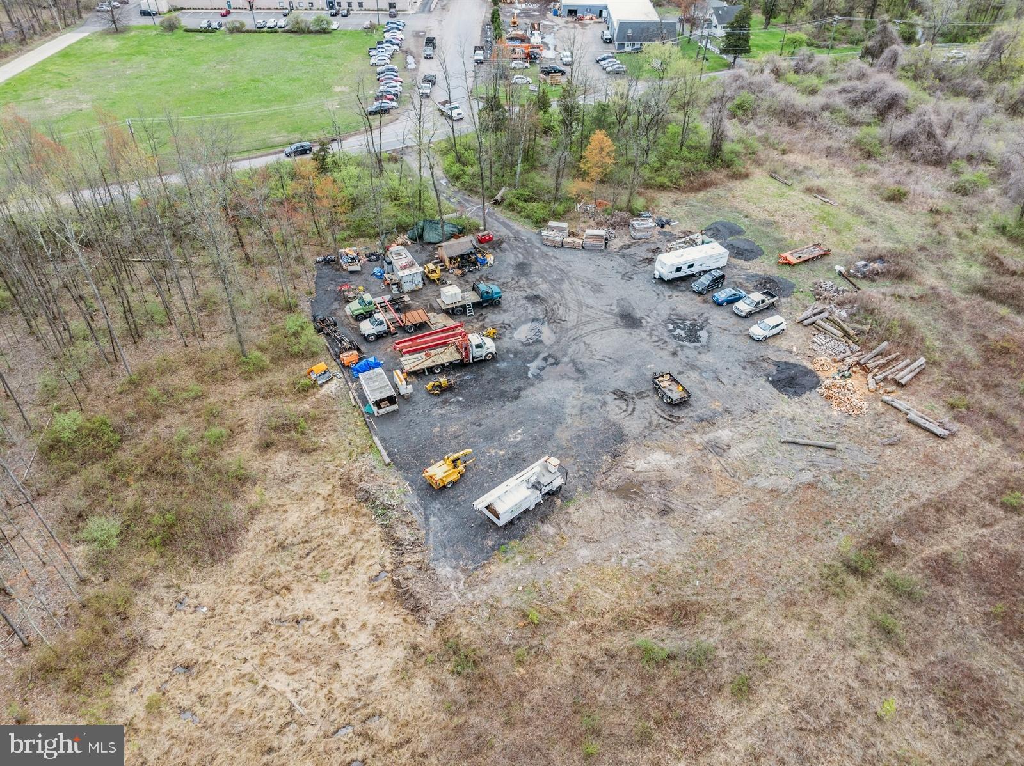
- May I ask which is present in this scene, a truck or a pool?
truck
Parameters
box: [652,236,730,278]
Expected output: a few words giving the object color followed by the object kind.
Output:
white vehicle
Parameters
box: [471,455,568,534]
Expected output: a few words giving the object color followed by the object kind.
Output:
white truck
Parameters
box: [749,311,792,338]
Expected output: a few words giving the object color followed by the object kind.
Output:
white car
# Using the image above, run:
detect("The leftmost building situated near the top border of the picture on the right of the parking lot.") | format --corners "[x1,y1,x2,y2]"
[558,0,678,50]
